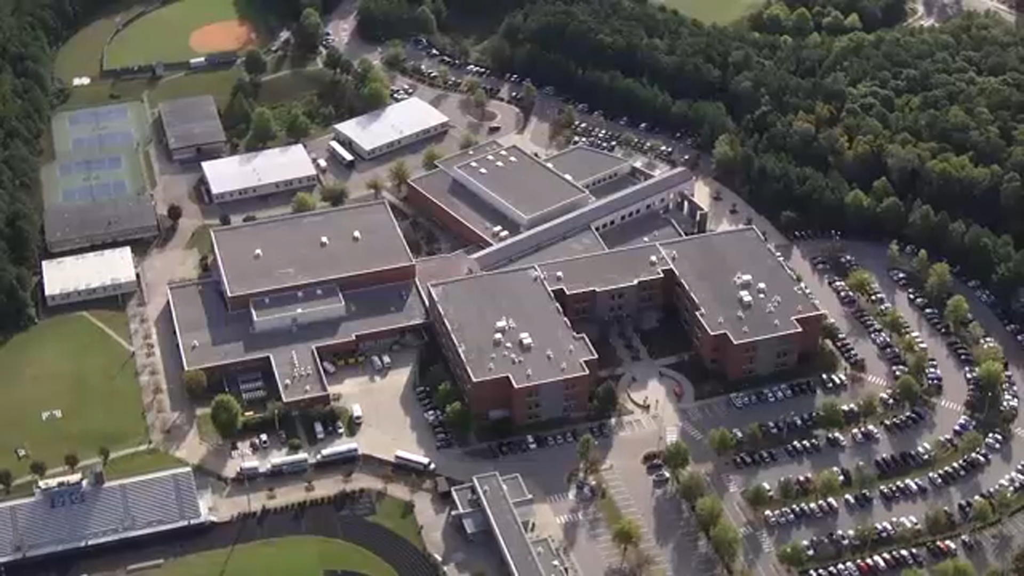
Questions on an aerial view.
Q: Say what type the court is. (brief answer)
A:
tennis court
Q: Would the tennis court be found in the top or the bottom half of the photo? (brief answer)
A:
top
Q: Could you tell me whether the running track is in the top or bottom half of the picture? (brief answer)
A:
bottom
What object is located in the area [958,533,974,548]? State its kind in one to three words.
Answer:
car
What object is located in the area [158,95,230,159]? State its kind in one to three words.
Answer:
building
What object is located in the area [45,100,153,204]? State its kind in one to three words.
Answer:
tennis court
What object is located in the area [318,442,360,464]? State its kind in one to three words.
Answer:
bus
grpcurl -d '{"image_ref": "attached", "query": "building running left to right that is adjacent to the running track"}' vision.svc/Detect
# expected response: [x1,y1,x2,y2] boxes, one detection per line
[168,141,827,424]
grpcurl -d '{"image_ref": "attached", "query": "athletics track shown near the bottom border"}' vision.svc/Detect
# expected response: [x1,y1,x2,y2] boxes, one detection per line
[3,508,438,576]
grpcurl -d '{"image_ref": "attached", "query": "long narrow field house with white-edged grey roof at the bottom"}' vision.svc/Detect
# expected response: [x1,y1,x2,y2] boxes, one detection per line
[451,472,569,576]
